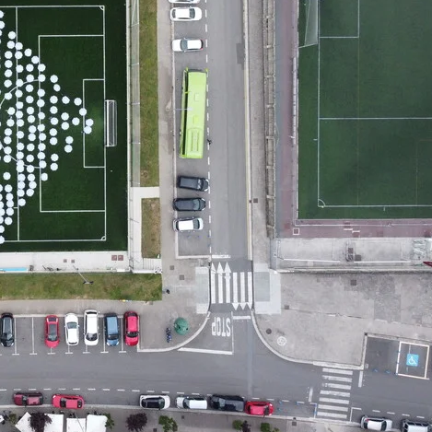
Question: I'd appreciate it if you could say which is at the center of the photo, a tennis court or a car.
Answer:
car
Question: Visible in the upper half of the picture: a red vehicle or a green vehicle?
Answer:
green vehicle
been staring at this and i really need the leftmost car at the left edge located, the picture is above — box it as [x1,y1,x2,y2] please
[0,312,15,348]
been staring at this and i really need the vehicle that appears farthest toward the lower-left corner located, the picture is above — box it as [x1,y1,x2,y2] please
[13,391,43,408]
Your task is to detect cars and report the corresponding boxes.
[244,399,274,416]
[0,312,15,348]
[65,312,79,346]
[358,415,393,432]
[176,176,209,192]
[169,6,202,22]
[13,391,43,408]
[44,313,60,347]
[138,394,169,411]
[83,309,99,346]
[104,312,120,346]
[175,394,207,411]
[172,217,203,233]
[209,394,244,411]
[123,311,139,346]
[172,197,205,213]
[170,37,203,53]
[51,393,84,410]
[399,419,432,432]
